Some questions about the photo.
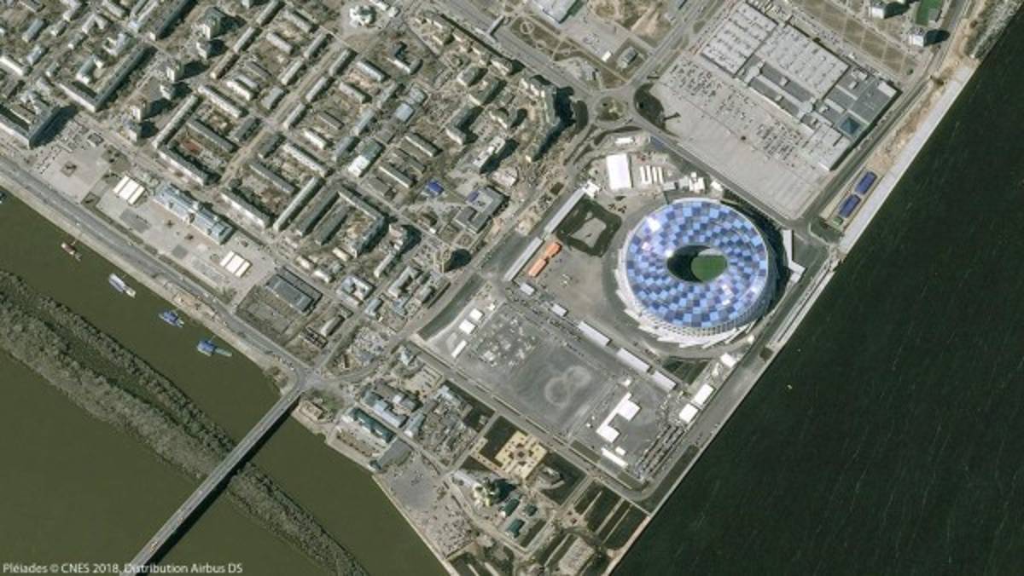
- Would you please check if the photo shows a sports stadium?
Yes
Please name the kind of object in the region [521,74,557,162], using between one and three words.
building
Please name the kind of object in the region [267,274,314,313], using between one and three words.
building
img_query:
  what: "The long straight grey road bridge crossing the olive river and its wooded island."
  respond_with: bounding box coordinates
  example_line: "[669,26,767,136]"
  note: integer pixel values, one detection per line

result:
[120,376,310,576]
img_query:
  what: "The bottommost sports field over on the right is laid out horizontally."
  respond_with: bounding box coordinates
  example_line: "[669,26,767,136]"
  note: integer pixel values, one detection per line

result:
[668,253,728,280]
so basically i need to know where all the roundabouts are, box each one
[586,85,637,131]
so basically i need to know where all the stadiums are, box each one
[616,197,776,350]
